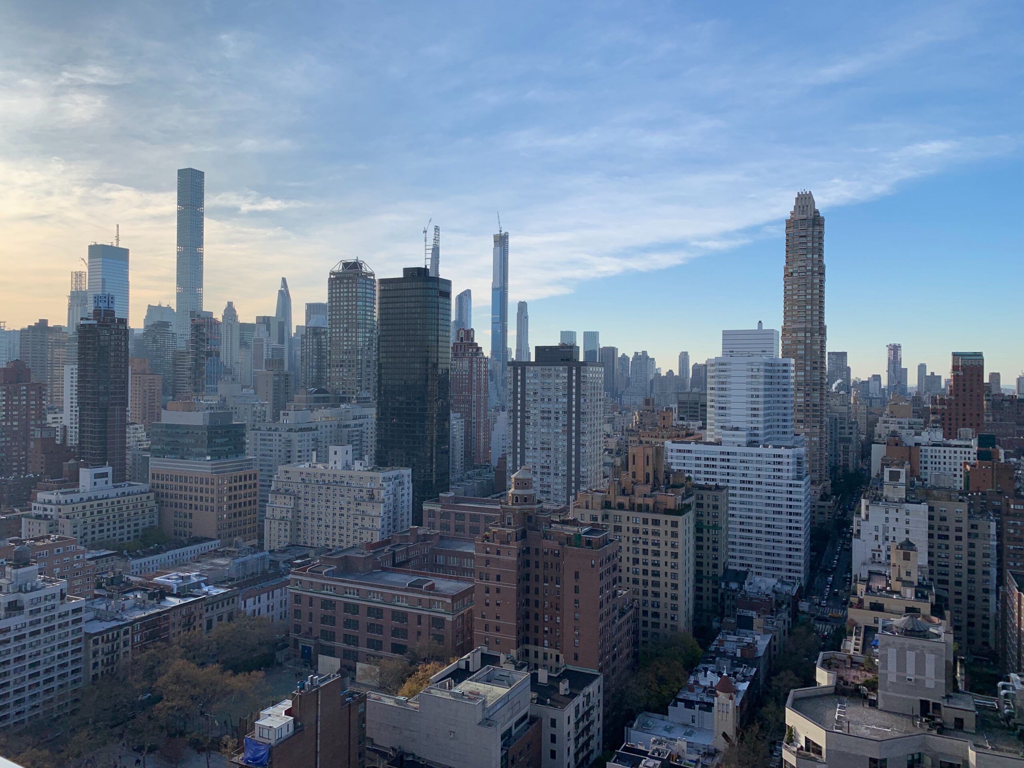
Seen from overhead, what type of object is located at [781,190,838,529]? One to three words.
building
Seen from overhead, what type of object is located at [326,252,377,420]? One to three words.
building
